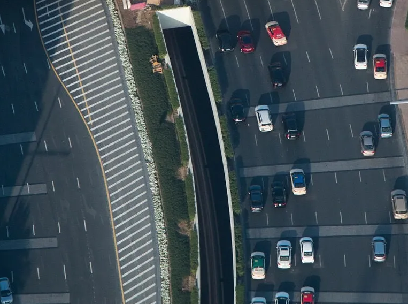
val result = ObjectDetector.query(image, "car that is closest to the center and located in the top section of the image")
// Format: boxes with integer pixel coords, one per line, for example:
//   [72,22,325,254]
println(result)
[230,99,245,123]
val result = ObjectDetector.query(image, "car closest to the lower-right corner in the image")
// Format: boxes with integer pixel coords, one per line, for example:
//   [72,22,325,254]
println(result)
[371,237,387,264]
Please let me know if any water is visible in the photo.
No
